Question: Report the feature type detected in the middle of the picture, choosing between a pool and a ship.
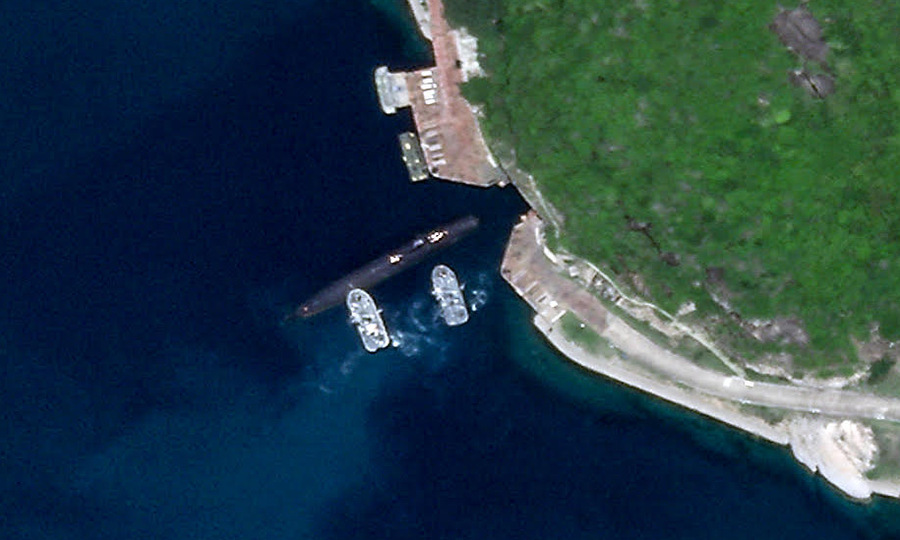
ship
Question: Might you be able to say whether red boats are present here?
No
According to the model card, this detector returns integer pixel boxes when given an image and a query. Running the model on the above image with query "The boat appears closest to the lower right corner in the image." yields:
[432,265,468,328]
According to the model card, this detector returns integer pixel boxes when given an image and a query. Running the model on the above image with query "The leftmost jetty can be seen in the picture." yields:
[375,65,410,115]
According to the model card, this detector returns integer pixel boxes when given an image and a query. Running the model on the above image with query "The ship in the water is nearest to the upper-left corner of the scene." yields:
[399,131,427,181]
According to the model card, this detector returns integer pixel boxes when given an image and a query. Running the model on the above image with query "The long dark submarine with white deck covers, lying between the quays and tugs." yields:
[294,217,478,319]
